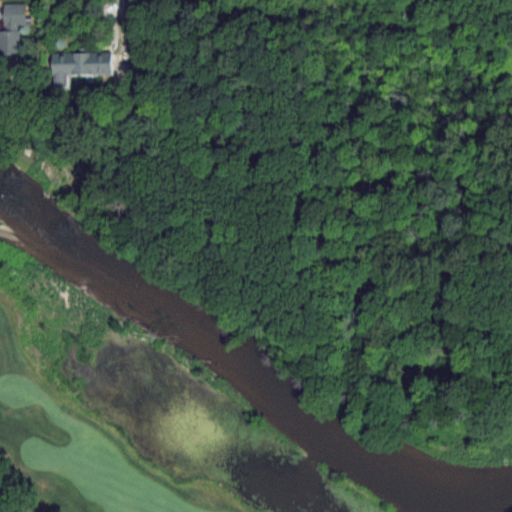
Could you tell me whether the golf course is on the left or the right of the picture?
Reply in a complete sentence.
You can find the golf course on the left side of the picture.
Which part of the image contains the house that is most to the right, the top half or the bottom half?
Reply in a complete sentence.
The house that is most to the right is in the top half of the image.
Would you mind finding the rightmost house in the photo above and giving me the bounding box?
[52,48,112,86]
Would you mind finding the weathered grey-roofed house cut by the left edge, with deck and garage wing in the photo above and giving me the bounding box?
[0,4,33,56]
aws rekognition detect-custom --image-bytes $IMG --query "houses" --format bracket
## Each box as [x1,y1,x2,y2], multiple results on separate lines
[52,48,112,86]
[0,4,33,56]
